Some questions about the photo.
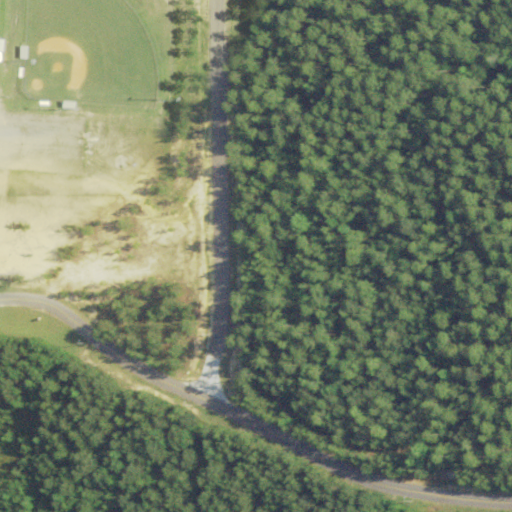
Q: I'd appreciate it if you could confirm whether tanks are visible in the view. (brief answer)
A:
No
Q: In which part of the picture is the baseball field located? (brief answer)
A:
top left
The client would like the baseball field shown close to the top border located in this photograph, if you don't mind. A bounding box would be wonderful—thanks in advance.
[18,0,156,102]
